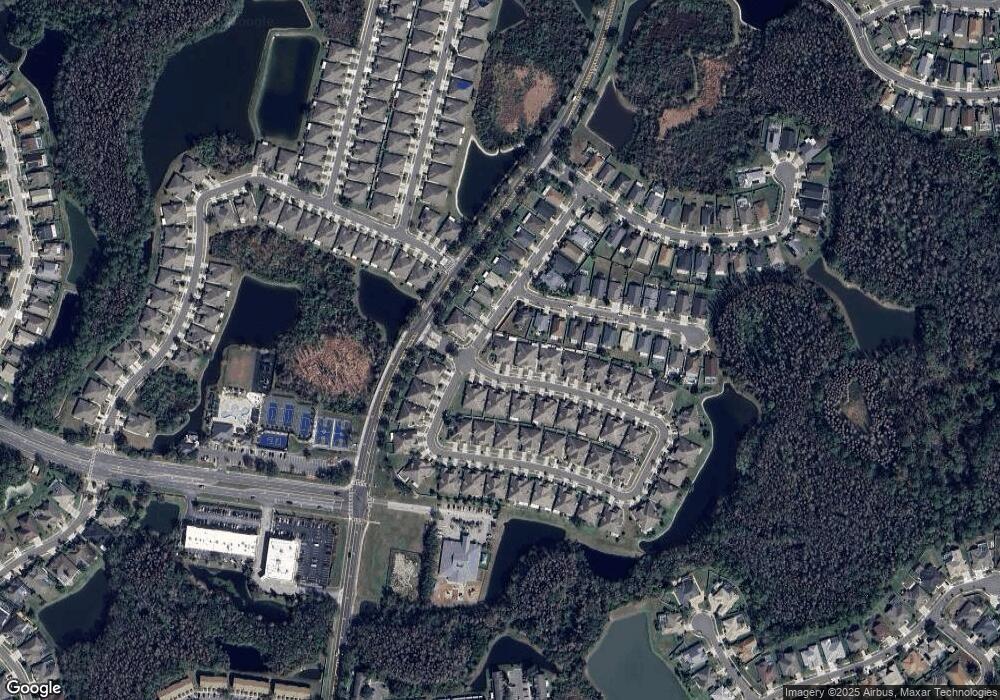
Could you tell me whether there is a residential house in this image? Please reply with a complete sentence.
Yes, the frame does contain a residential house.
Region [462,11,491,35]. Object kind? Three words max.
house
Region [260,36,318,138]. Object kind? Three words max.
pond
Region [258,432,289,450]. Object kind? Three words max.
sports court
